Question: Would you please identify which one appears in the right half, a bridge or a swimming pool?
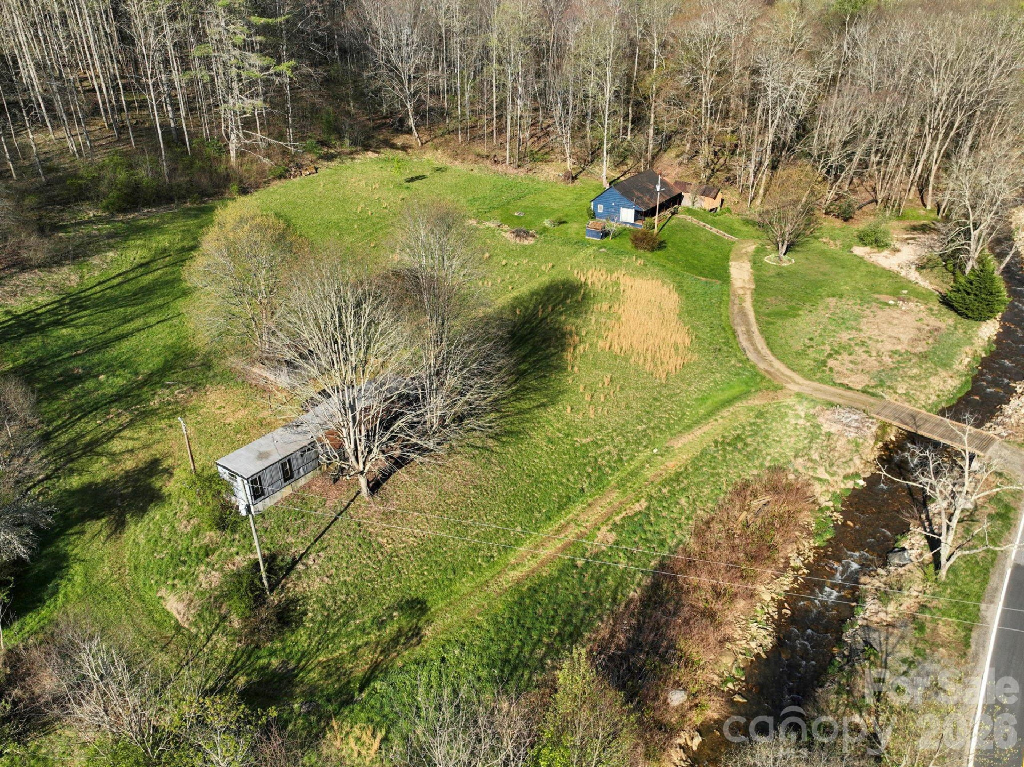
bridge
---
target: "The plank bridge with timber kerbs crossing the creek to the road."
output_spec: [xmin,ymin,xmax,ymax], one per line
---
[862,398,1006,467]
